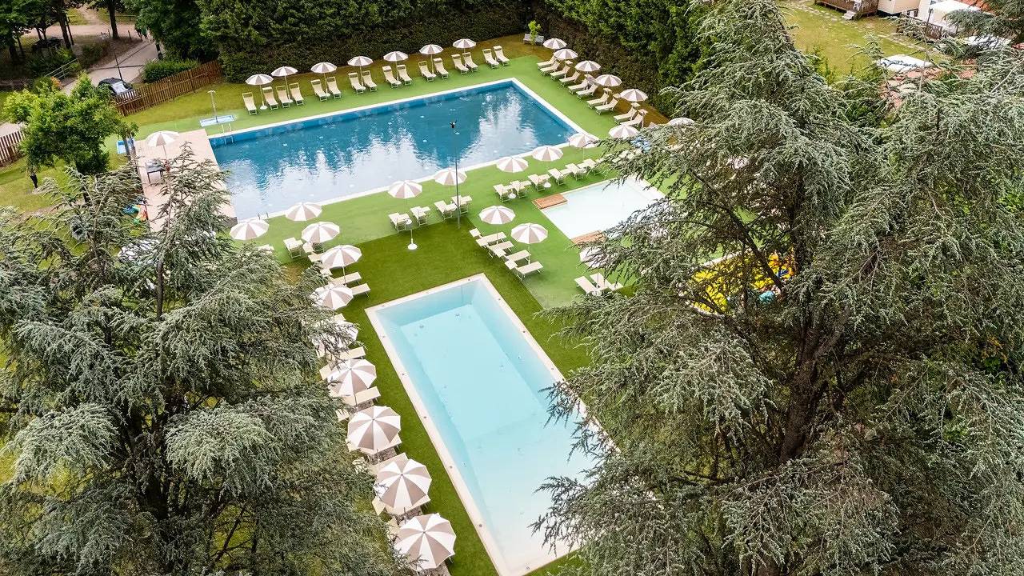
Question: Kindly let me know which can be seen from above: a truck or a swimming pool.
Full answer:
There is a swimming pool in the scene.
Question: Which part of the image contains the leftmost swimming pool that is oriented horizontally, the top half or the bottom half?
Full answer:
Seen from above, the leftmost swimming pool that is oriented horizontally lies in the top half of the view.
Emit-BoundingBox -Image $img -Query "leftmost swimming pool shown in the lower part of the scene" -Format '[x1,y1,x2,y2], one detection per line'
[365,274,649,576]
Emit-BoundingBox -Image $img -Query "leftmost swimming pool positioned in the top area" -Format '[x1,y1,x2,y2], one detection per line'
[208,78,590,222]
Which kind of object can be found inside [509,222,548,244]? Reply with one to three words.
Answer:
umbrella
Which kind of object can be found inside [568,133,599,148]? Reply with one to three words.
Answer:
umbrella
